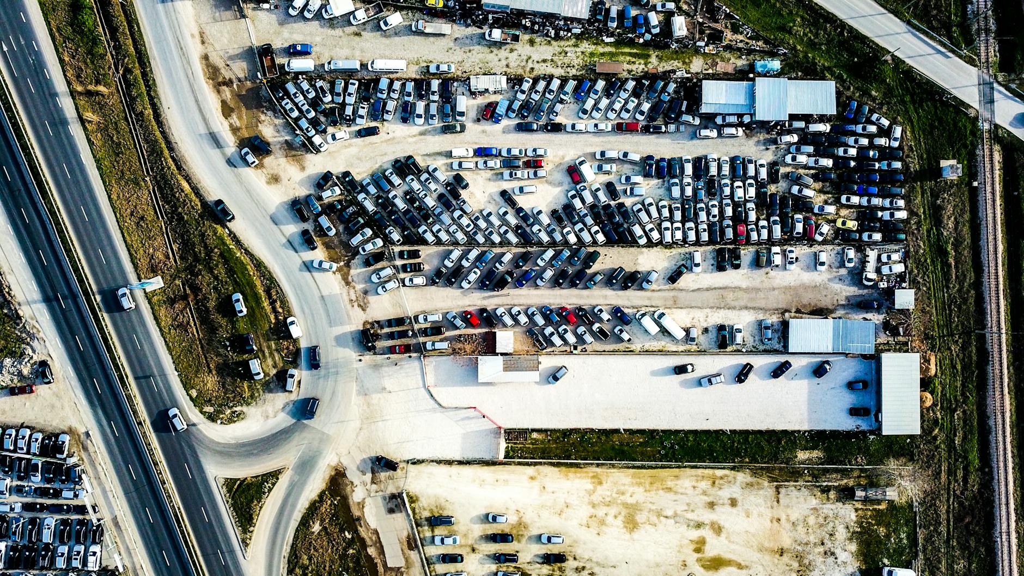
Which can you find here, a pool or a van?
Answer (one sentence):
The image shows a van.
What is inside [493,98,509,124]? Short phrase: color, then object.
blue vehicle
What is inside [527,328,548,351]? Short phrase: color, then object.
black truck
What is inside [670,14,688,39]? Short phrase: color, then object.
white camper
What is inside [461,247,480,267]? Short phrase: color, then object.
white car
